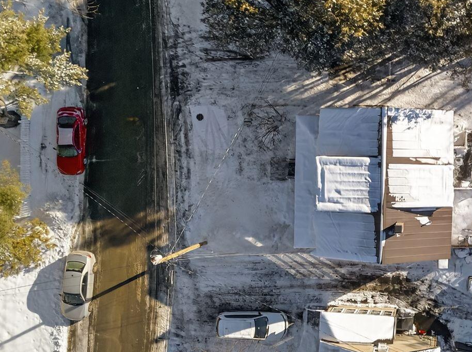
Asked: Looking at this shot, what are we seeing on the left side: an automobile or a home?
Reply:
automobile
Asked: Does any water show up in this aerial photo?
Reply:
No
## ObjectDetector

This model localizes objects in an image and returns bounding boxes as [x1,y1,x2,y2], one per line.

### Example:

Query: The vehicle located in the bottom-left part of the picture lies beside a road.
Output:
[59,252,95,319]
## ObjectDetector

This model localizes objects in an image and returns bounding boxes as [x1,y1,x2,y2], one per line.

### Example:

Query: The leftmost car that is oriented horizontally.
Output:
[218,308,289,341]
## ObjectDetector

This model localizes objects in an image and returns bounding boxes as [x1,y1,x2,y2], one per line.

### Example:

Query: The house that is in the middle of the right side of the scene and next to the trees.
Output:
[288,106,454,267]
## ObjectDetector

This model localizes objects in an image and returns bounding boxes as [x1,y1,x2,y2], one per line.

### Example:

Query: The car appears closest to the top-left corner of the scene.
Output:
[52,107,87,172]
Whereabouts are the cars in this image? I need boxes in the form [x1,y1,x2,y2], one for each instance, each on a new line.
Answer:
[52,107,87,172]
[59,252,95,319]
[218,308,289,341]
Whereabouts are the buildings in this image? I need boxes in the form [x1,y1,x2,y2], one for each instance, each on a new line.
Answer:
[288,106,454,267]
[319,306,441,352]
